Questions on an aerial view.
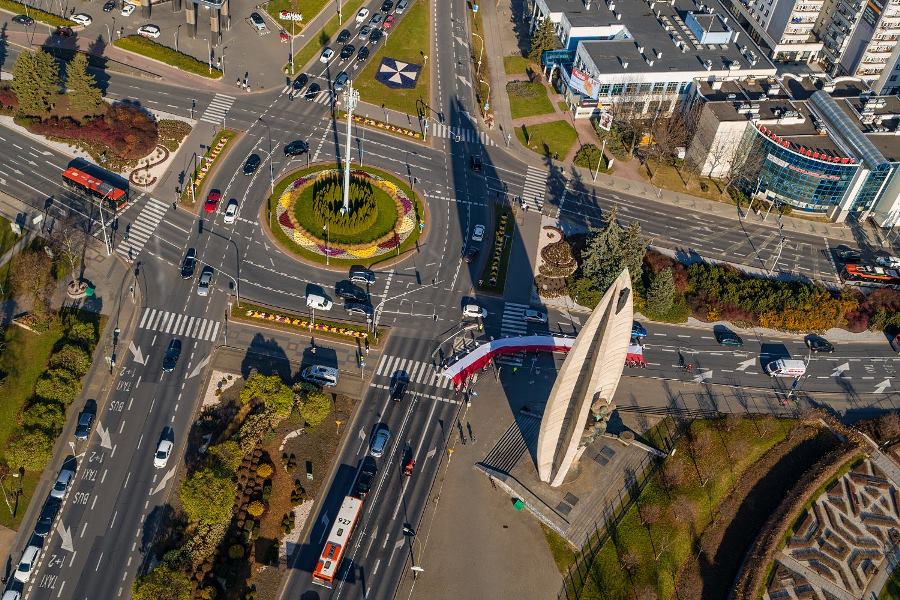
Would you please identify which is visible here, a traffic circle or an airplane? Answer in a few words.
traffic circle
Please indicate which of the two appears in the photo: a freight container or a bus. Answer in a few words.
bus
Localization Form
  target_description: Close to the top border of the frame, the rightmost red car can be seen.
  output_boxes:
[381,16,396,30]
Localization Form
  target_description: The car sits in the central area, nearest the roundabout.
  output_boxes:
[345,266,378,285]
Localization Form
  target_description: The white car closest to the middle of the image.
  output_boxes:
[460,303,488,320]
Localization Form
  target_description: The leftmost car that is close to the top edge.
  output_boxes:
[10,14,36,28]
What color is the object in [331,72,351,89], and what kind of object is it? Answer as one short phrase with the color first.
blue car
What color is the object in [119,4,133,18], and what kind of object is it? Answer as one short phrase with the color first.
white car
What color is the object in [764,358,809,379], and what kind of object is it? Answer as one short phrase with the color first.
white vehicle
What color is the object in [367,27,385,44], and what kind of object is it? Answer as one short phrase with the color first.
black car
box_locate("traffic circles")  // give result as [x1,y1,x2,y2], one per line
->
[258,161,432,271]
